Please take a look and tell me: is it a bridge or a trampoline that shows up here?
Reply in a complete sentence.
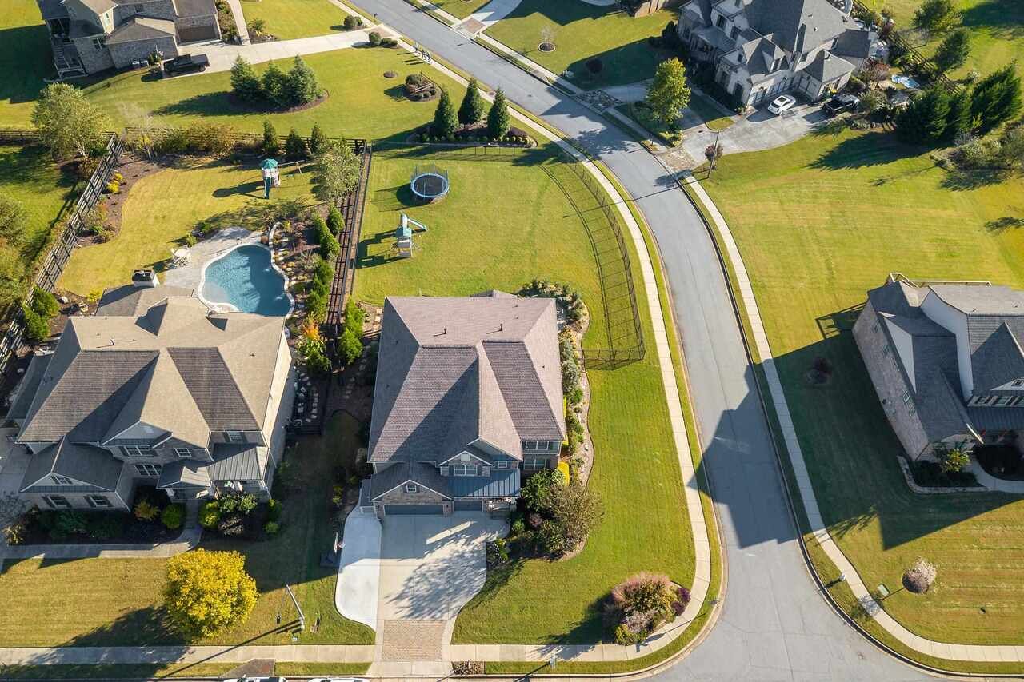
This aerial view contains a trampoline.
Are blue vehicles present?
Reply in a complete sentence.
No, I find no blue vehicle anywhere in the image.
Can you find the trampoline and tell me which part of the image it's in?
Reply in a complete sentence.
The trampoline sits in the top section of the image.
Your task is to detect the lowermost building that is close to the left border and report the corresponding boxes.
[0,273,296,523]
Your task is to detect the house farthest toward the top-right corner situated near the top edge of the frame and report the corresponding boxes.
[676,0,881,106]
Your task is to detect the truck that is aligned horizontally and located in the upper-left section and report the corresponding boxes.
[161,53,210,75]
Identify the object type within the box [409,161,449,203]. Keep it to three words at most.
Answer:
trampoline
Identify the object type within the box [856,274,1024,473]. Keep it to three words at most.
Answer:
house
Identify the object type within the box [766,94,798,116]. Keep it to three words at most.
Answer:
car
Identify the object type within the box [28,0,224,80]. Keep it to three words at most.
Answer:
house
